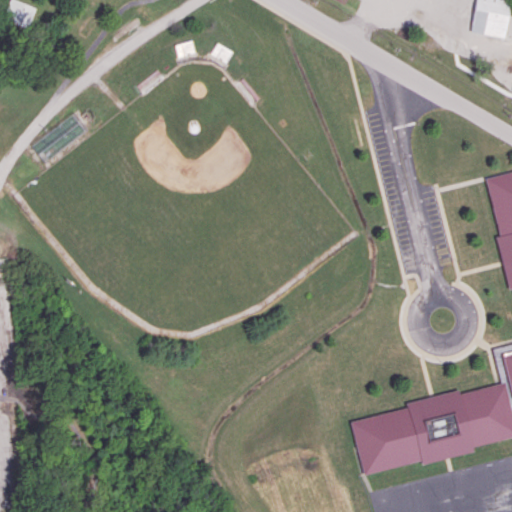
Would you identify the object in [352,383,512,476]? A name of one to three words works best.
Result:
building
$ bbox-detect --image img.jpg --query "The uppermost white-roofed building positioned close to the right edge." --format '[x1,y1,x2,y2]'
[472,0,510,40]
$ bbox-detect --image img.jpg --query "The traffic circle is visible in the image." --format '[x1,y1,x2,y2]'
[400,279,486,363]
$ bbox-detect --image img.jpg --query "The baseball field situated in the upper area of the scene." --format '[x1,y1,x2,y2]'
[8,60,358,340]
